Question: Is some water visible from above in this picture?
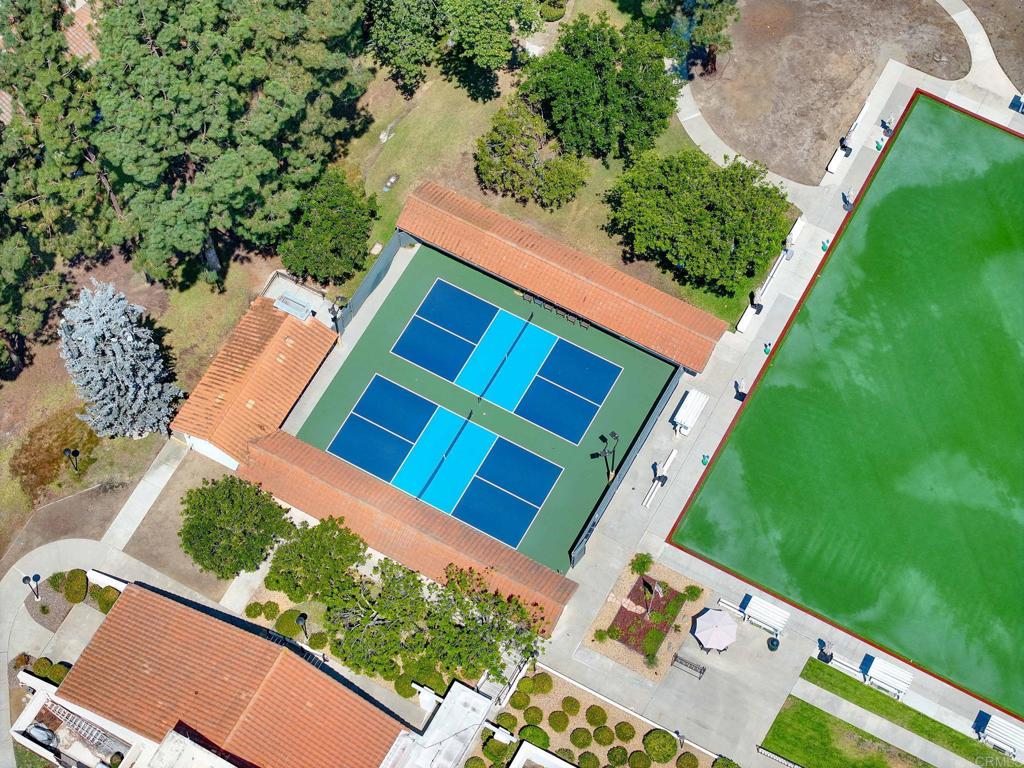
No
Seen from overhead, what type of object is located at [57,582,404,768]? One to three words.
house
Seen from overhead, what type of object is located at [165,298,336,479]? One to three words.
house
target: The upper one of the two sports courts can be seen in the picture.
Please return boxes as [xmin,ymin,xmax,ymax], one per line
[390,277,624,446]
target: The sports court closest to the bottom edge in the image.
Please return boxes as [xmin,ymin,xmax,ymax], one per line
[326,373,565,549]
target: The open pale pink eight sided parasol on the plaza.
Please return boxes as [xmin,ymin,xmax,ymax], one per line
[694,611,736,650]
